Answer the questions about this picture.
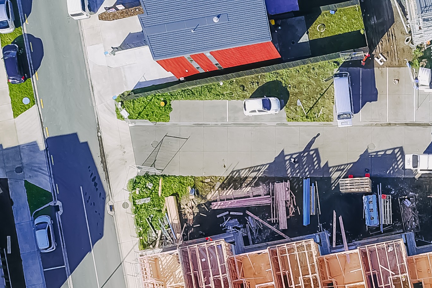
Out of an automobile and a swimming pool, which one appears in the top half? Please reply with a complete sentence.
What appears in the top half is an automobile.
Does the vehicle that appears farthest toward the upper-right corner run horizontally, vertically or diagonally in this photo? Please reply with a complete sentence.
The vehicle that appears farthest toward the upper-right corner is laid out vertically.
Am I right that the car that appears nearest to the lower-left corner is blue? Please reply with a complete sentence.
Yes, blue is the color of the car that appears nearest to the lower-left corner.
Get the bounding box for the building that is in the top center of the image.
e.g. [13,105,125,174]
[141,0,300,78]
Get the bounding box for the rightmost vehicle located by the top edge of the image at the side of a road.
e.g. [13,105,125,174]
[67,0,92,26]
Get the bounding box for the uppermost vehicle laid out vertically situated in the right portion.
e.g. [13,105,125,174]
[333,73,355,125]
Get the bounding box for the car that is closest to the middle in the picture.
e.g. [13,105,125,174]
[242,96,281,117]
